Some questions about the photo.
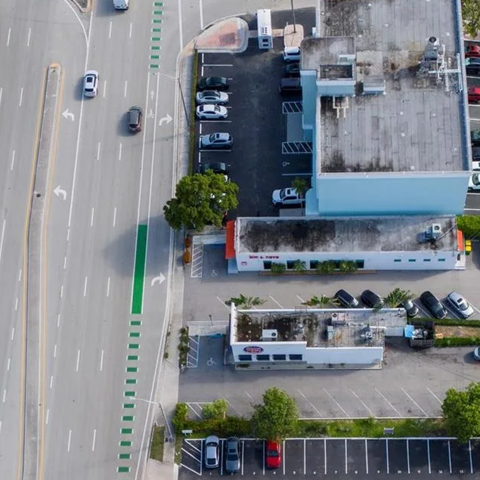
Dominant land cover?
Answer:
paved ground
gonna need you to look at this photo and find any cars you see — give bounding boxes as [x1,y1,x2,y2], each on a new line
[283,46,301,61]
[398,298,424,318]
[463,58,480,73]
[469,129,480,145]
[466,87,480,100]
[128,106,142,132]
[469,174,480,190]
[357,285,388,310]
[284,63,301,77]
[197,91,227,104]
[199,76,228,90]
[225,437,240,472]
[473,348,480,362]
[84,71,98,96]
[199,162,229,176]
[471,162,480,176]
[331,284,362,310]
[201,132,232,148]
[196,104,227,118]
[462,44,480,58]
[446,290,476,318]
[419,290,449,318]
[471,148,480,161]
[203,435,220,469]
[265,436,280,469]
[278,77,303,93]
